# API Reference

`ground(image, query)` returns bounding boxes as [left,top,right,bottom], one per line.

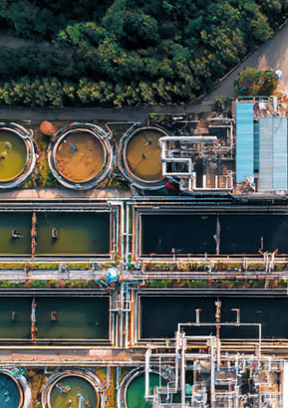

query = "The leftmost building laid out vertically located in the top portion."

[234,102,259,184]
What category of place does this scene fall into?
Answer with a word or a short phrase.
industrial area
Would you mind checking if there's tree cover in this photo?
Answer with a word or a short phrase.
Yes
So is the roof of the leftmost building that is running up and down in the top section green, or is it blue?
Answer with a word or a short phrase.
blue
